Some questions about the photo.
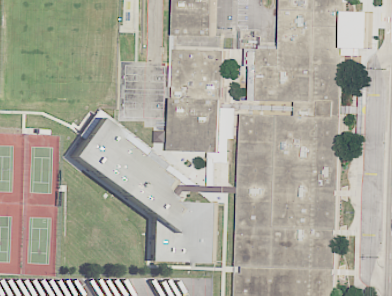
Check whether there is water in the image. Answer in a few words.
No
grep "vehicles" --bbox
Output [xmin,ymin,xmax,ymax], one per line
[75,280,87,296]
[33,280,45,296]
[152,280,164,296]
[41,280,53,296]
[90,280,102,296]
[124,280,136,296]
[16,280,28,296]
[116,280,128,296]
[50,280,62,296]
[58,280,70,296]
[107,280,119,296]
[0,280,12,296]
[8,280,20,296]
[25,280,37,296]
[162,280,173,296]
[66,280,78,296]
[169,280,181,296]
[178,280,190,296]
[99,280,111,296]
